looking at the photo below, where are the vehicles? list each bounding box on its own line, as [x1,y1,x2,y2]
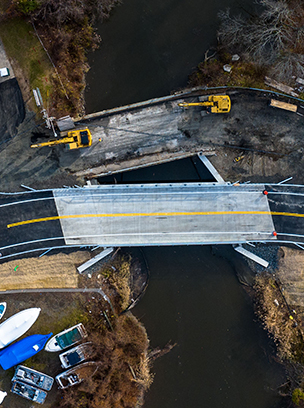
[179,95,231,113]
[33,130,93,149]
